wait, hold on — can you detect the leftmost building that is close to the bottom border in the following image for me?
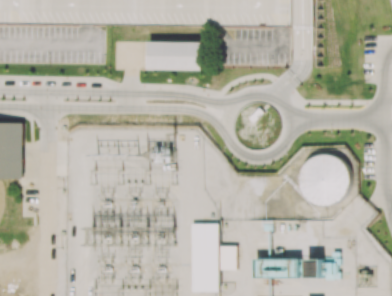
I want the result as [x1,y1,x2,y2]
[193,223,240,292]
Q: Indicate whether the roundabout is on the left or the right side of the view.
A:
right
